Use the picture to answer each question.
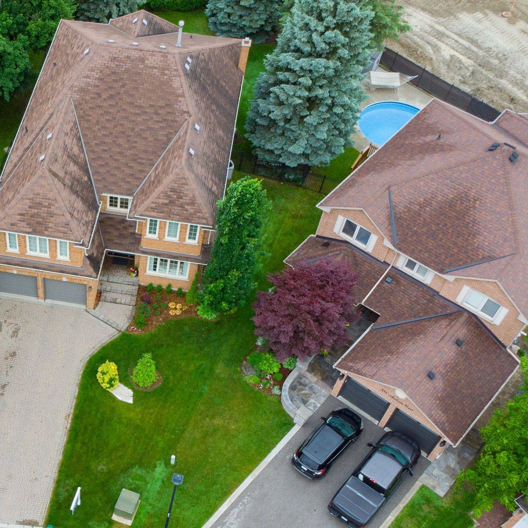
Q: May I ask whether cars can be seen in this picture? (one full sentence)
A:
Yes, there is a car in the image.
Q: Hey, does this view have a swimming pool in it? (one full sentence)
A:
Yes, a swimming pool is visible in the scene.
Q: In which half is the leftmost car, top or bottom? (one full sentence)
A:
Seen from above, the leftmost car lies in the bottom half of the view.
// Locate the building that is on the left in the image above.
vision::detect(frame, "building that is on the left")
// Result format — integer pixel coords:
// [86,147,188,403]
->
[0,4,260,312]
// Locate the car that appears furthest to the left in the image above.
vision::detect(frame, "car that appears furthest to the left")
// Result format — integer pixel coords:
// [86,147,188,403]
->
[291,407,366,488]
